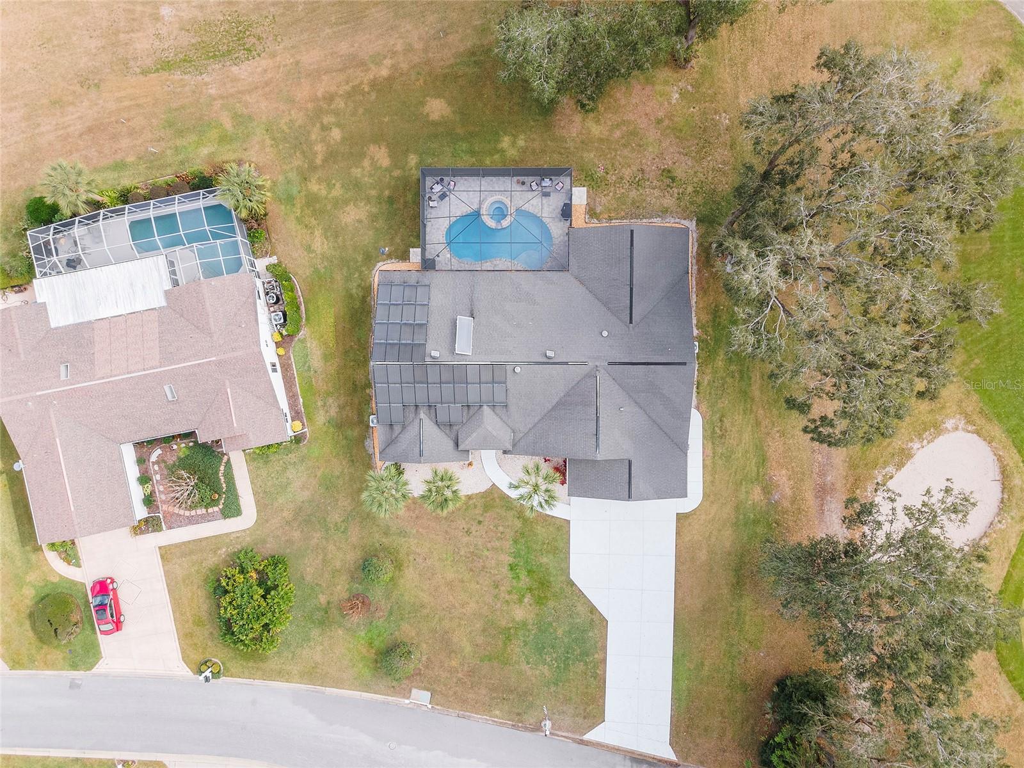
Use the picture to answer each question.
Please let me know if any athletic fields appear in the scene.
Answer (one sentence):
No, the photo shows no athletic field.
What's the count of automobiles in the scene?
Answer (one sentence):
I count 1 automobile.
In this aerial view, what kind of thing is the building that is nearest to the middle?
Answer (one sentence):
I'd identify the building that is nearest to the middle as a residential house.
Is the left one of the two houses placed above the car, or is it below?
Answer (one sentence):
In the image, the left one of the two houses sits above the car.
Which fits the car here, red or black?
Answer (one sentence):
The car looks red in the image.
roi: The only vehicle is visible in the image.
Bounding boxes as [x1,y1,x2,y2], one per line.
[90,576,126,637]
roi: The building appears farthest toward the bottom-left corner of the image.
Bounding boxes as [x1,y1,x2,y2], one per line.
[0,252,293,544]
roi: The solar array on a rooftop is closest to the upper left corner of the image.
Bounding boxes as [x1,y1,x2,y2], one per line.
[95,316,160,379]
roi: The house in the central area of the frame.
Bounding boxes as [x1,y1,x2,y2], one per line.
[370,223,696,501]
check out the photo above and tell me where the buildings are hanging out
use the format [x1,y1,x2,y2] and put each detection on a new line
[0,252,293,544]
[370,223,696,501]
